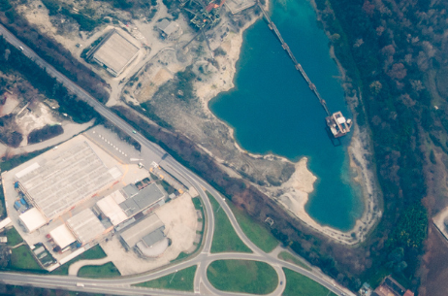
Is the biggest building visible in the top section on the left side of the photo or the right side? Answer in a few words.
left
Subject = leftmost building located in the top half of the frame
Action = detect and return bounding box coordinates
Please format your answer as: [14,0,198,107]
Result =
[88,28,142,78]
